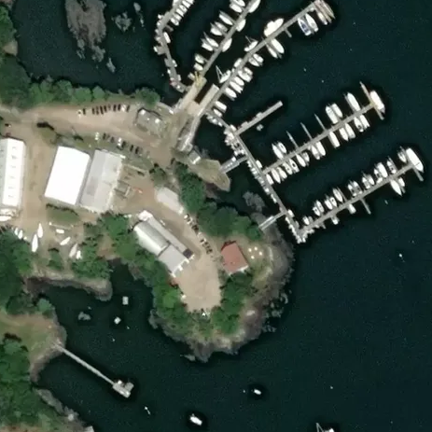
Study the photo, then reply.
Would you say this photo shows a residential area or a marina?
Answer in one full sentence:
The picture captures a marina.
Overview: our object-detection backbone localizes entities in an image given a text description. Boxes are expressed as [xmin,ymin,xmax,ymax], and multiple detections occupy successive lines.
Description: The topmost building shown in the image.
[137,108,162,131]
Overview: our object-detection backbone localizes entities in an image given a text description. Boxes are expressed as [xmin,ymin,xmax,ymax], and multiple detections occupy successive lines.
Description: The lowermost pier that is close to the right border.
[300,152,423,238]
